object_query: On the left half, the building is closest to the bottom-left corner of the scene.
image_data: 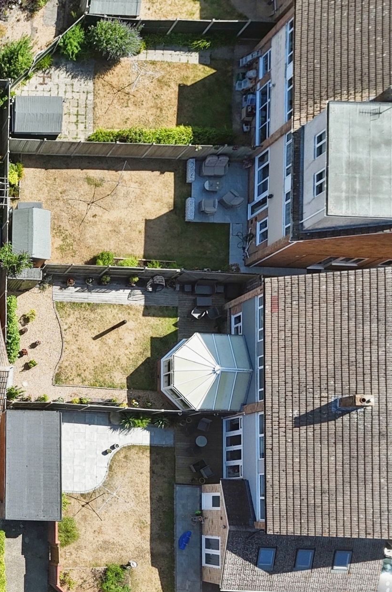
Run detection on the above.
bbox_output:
[0,410,62,521]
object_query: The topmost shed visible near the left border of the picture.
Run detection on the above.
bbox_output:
[11,97,64,139]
